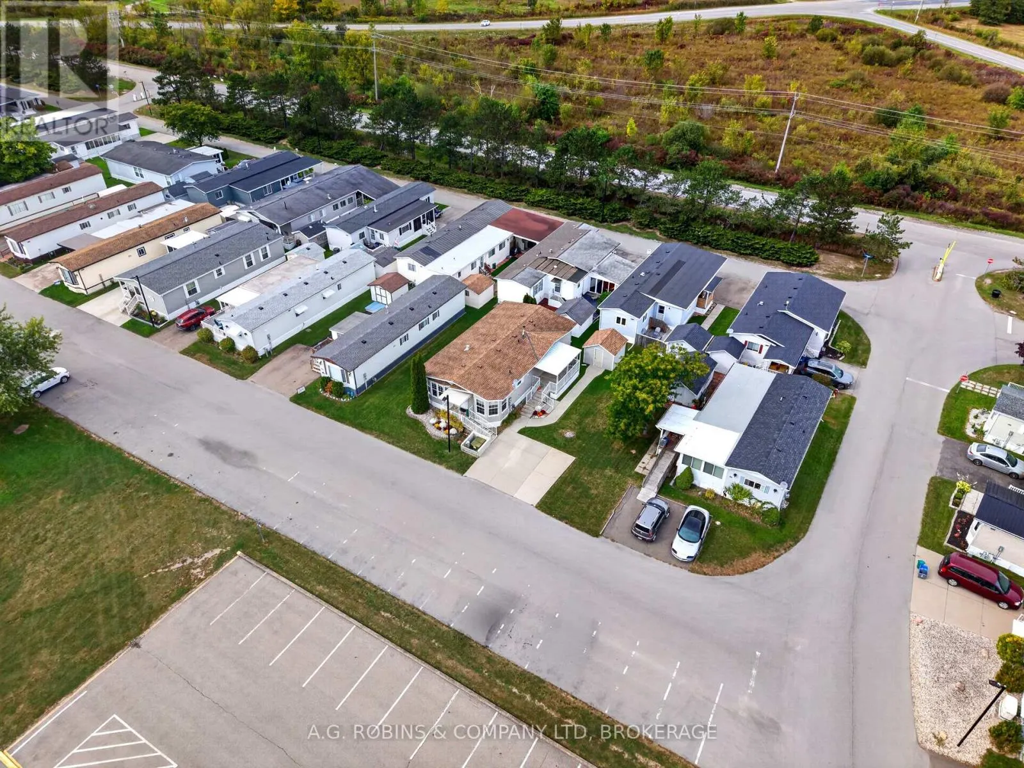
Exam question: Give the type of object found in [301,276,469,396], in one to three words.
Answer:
house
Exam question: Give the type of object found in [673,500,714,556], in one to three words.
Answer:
car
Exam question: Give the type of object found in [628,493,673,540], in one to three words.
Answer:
car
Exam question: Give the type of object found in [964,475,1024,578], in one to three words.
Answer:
house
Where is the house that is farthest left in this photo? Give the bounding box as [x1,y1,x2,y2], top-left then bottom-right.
[0,83,38,122]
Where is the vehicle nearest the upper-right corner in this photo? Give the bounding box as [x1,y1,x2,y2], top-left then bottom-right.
[801,353,856,388]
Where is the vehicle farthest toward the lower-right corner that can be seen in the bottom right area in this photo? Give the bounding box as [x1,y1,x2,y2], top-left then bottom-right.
[941,552,1024,612]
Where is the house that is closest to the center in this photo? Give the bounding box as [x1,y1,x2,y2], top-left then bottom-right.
[427,303,583,443]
